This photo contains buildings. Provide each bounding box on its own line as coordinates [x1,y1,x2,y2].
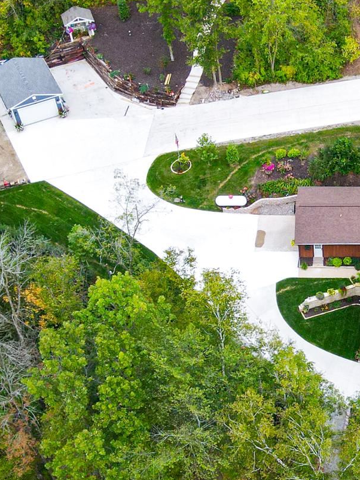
[59,2,94,41]
[294,187,360,266]
[0,57,65,127]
